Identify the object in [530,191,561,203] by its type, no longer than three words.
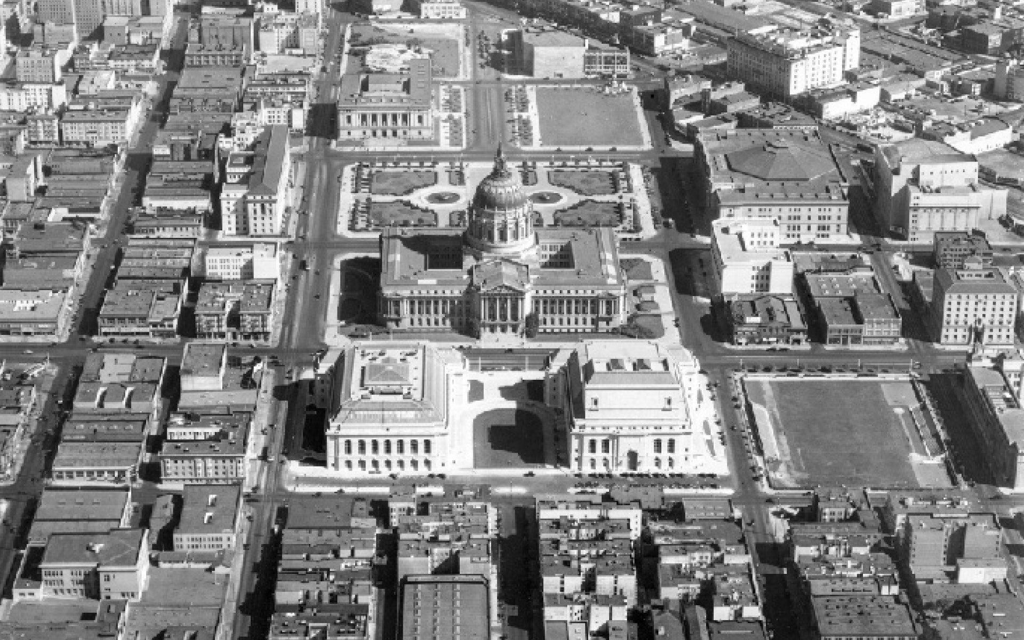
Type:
fountain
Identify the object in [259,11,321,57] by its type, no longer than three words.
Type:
building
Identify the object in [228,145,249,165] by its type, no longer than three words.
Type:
house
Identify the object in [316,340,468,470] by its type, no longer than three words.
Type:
building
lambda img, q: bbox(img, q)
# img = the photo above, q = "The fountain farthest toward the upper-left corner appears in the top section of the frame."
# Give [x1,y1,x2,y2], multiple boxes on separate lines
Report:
[427,190,460,202]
